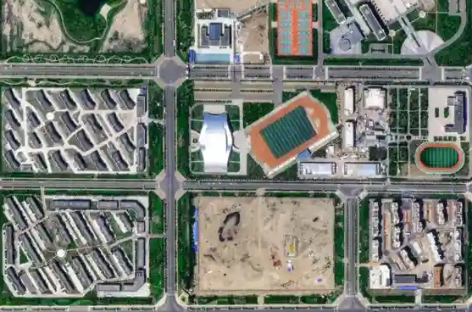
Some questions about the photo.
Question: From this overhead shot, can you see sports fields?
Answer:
Yes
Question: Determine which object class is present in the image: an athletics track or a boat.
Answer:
athletics track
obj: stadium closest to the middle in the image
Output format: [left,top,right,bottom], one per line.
[199,114,233,175]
